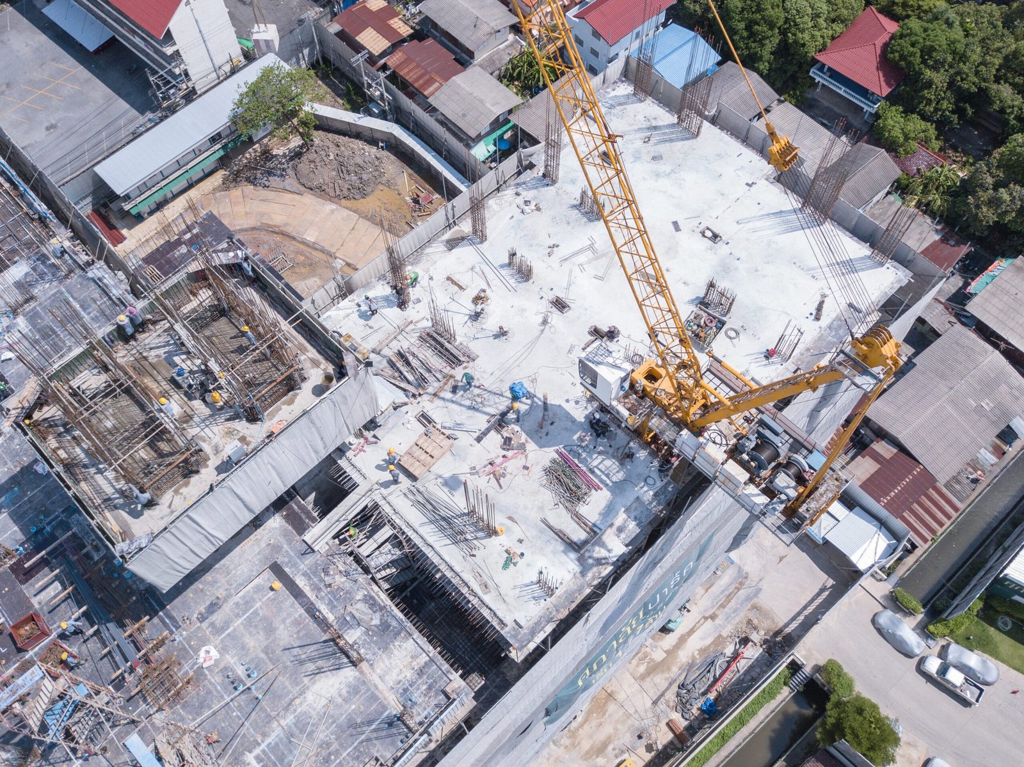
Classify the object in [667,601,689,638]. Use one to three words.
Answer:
work vehicle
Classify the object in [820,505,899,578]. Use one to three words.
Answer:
building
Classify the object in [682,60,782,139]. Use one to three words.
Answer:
house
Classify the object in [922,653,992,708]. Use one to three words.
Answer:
truck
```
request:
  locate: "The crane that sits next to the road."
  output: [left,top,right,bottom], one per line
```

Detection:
[521,0,907,556]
